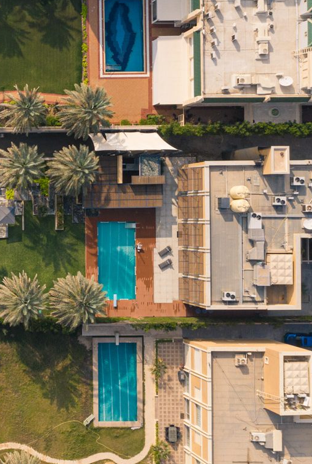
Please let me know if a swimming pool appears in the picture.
Yes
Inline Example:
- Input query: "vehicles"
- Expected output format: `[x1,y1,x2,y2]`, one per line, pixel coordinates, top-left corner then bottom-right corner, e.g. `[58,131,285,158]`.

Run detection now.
[284,333,312,347]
